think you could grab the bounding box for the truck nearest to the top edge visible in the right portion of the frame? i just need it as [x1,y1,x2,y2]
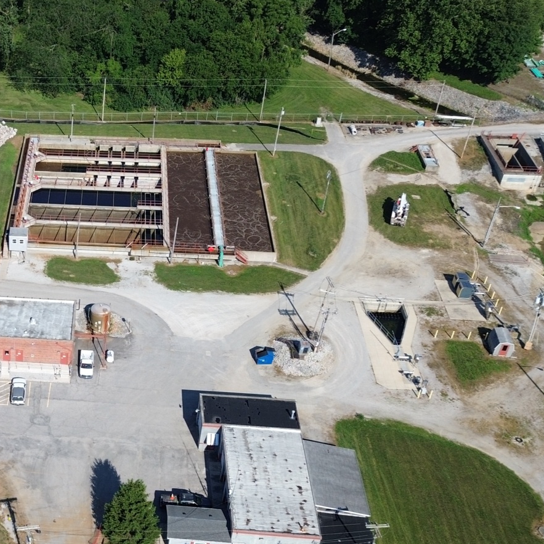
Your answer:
[390,181,412,218]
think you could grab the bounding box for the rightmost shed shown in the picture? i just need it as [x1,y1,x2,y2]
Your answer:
[489,323,515,357]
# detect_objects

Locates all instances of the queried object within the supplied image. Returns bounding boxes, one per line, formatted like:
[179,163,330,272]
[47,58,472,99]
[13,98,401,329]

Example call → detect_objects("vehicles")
[77,348,97,380]
[155,491,210,512]
[390,181,412,218]
[9,379,28,404]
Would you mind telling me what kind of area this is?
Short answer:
industrial area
